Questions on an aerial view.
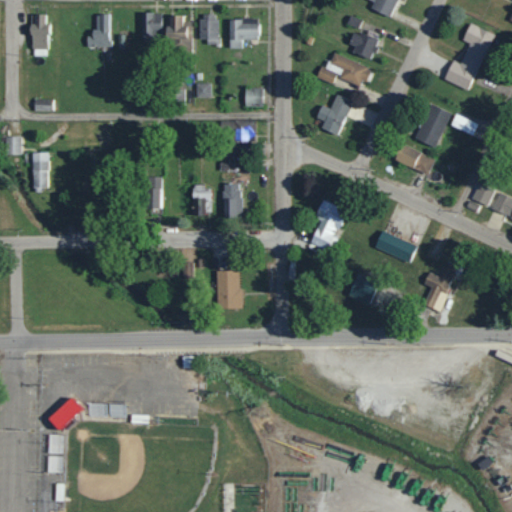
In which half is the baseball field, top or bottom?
bottom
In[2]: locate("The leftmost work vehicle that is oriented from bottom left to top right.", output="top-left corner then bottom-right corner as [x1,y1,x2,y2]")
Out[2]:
[351,456,366,472]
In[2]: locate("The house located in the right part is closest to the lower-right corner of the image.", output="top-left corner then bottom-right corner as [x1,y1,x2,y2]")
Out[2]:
[426,272,454,311]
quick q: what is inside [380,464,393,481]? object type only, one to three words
vehicle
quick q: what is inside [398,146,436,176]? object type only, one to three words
house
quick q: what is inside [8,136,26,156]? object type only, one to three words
building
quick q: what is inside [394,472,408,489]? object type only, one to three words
work vehicle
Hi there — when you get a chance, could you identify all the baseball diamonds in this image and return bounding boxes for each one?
[68,424,218,512]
